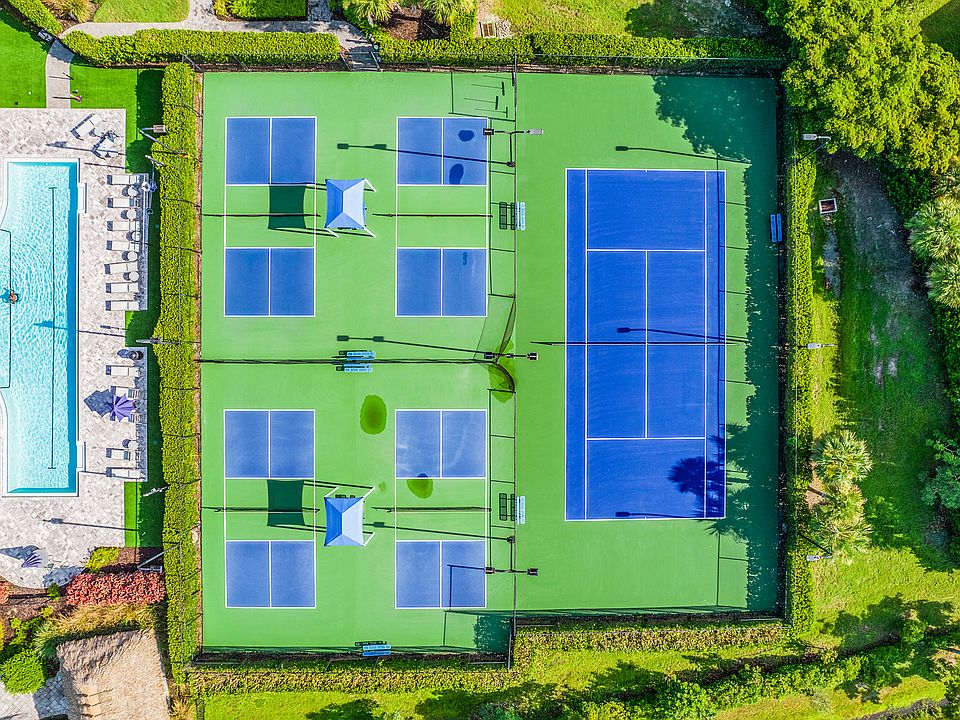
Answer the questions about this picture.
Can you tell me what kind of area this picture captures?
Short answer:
sports ground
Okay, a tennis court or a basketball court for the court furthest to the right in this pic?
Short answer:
tennis court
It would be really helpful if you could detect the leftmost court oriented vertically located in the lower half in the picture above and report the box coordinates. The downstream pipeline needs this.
[224,410,316,608]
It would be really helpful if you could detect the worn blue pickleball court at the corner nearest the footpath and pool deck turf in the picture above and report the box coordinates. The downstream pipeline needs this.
[225,116,317,317]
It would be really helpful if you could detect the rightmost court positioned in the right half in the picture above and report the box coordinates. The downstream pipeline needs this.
[516,74,778,616]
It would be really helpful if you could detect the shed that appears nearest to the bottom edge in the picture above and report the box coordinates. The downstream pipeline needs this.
[57,620,176,720]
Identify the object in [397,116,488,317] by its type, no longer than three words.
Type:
sports court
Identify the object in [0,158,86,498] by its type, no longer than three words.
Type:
swimming pool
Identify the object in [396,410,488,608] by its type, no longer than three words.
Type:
sports court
